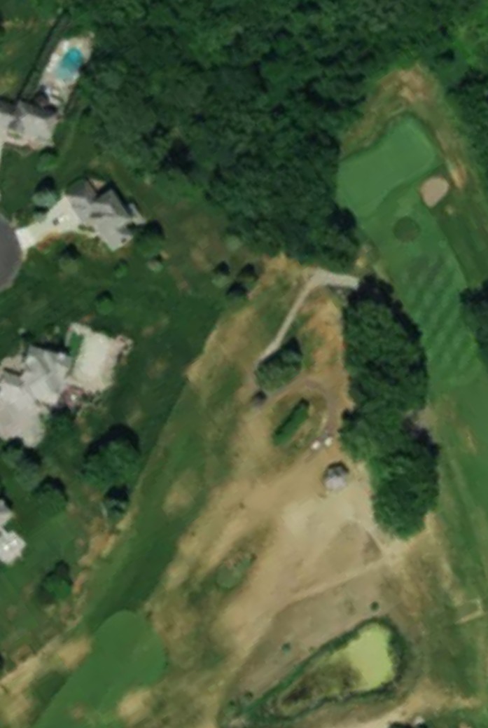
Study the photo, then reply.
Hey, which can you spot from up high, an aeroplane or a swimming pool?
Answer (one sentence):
There is a swimming pool in the scene.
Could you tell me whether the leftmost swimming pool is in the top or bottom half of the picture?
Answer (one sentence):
It is in the top half that the leftmost swimming pool appears.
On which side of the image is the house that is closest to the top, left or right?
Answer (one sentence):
It is on the left.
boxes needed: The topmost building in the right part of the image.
[326,467,346,487]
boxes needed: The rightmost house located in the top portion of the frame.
[62,177,136,252]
